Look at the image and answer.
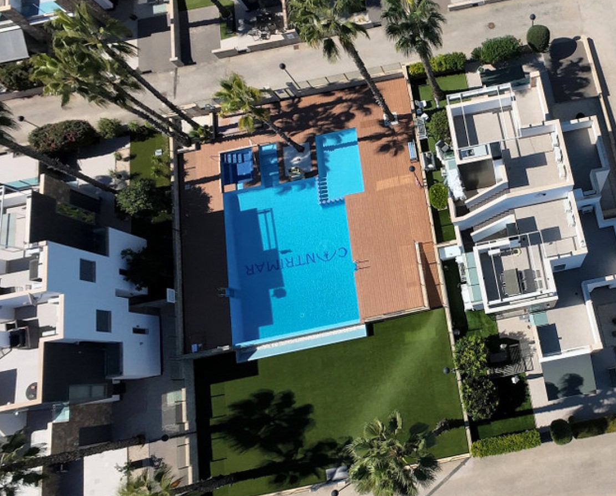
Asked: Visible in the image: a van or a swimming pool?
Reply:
swimming pool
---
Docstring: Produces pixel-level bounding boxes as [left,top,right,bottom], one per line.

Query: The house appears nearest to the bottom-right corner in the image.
[439,193,616,401]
